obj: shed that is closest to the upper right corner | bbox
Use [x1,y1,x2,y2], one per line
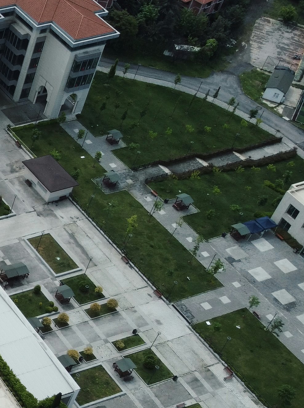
[263,60,299,103]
